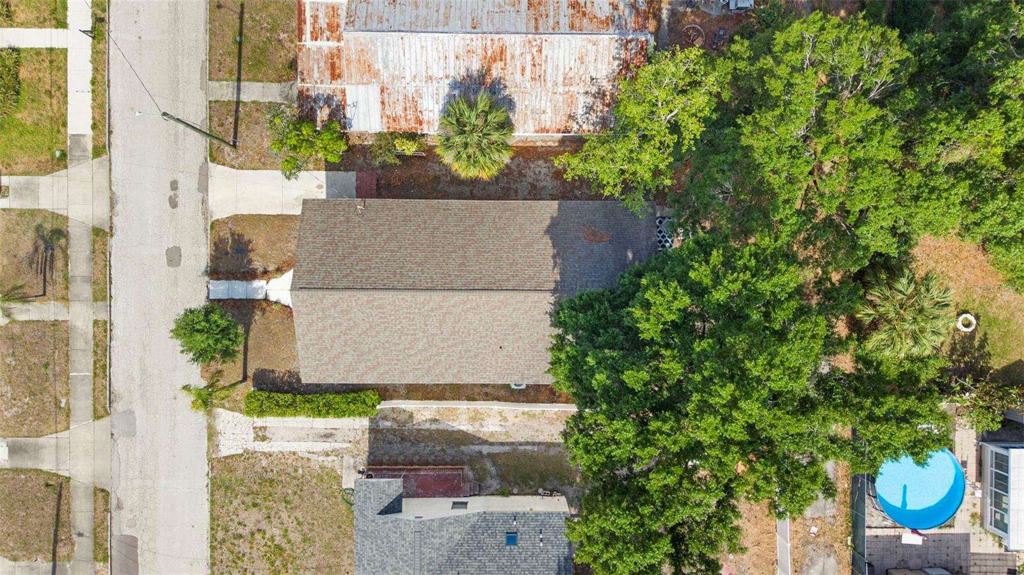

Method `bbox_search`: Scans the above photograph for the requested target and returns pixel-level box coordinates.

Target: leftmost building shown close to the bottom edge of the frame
[354,466,570,575]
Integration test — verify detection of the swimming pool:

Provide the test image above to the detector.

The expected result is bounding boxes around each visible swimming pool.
[866,435,966,530]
